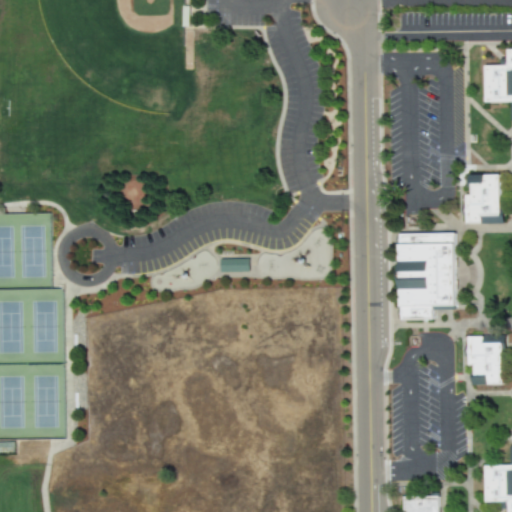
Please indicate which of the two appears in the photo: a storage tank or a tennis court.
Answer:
tennis court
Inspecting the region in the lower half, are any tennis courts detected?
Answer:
Yes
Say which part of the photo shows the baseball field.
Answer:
top left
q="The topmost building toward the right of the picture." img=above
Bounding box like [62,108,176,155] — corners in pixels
[484,48,512,102]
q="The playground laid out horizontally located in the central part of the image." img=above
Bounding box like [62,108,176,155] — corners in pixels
[121,215,334,292]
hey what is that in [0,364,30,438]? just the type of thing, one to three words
tennis court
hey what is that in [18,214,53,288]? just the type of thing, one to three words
tennis court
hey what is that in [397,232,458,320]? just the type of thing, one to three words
building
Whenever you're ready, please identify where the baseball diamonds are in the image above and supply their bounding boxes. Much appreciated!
[38,0,189,114]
